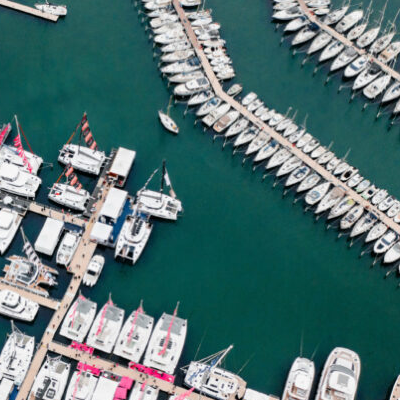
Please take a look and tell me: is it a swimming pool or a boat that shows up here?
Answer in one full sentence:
Looking from above, you can make out a boat.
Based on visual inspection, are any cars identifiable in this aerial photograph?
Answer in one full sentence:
No, there appears to be no car in this shot.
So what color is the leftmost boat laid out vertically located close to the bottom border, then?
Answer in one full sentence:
The color of the leftmost boat laid out vertically located close to the bottom border is white.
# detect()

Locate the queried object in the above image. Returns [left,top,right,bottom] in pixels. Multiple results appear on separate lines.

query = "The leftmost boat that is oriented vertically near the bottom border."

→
[0,319,34,386]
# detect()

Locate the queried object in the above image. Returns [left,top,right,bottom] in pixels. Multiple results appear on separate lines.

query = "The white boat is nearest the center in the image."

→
[135,161,180,221]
